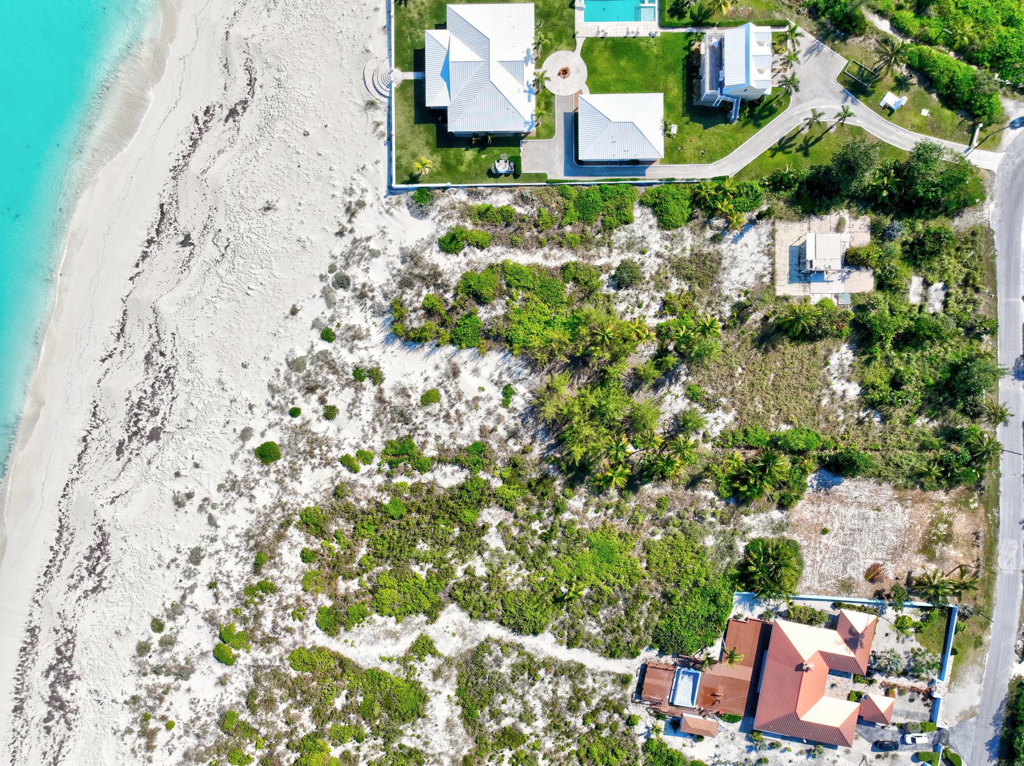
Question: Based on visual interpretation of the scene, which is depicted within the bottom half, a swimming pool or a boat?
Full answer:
What appears within the bottom half is a swimming pool.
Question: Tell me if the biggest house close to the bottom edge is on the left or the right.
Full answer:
The biggest house close to the bottom edge is on the right side of the image.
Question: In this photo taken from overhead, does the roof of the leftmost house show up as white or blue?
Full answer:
From above, the roof of the leftmost house appears white.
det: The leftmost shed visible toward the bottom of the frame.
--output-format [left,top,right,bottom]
[680,713,718,738]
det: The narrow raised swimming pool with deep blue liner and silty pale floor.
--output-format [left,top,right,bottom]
[670,667,701,708]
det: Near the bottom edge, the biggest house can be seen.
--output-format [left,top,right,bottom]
[753,609,878,748]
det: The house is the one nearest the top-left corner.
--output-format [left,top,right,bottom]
[425,2,535,133]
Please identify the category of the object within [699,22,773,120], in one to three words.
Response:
house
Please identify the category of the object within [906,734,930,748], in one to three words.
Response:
car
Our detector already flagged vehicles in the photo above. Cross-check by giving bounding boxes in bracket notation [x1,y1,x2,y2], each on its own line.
[878,741,901,755]
[906,734,930,748]
[1012,115,1024,129]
